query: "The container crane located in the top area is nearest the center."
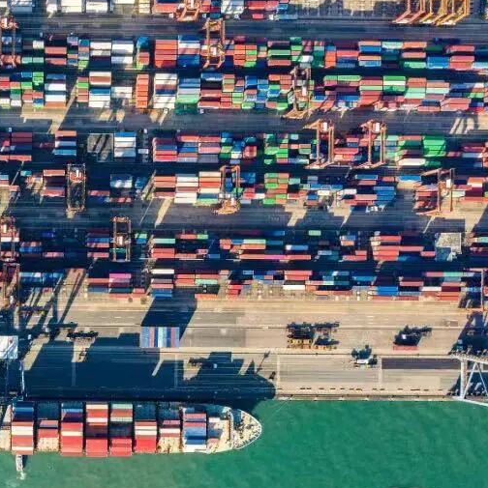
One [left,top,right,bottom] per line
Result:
[214,162,240,218]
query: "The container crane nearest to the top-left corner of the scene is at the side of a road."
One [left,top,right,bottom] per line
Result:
[0,14,20,77]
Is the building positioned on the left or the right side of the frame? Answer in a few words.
right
